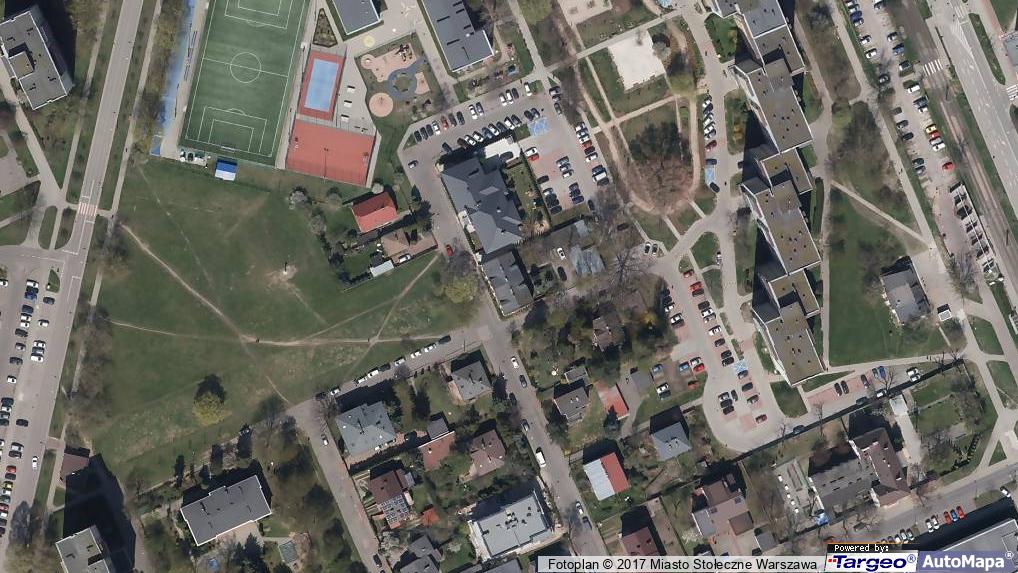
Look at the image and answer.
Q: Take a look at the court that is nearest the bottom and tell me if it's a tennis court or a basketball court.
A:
basketball court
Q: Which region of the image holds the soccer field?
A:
top left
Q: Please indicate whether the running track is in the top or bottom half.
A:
top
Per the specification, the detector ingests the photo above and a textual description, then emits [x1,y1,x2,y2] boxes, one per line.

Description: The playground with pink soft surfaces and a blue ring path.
[361,42,429,117]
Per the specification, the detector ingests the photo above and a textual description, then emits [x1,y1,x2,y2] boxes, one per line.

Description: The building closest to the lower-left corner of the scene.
[57,516,123,573]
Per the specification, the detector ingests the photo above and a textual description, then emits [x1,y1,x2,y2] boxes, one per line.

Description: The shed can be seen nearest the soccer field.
[215,161,238,181]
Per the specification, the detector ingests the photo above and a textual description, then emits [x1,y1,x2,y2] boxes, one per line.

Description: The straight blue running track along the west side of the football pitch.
[151,0,195,157]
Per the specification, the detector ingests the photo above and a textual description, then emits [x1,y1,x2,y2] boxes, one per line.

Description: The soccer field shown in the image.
[177,0,310,167]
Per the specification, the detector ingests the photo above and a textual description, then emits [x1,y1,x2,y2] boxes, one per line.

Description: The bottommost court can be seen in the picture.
[286,119,375,186]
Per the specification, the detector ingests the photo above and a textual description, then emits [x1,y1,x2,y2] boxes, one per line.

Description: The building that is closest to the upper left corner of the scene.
[0,11,79,108]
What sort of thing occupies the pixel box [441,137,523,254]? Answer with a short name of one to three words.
house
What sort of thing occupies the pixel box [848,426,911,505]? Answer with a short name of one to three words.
house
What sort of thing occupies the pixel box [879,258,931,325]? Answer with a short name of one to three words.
building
